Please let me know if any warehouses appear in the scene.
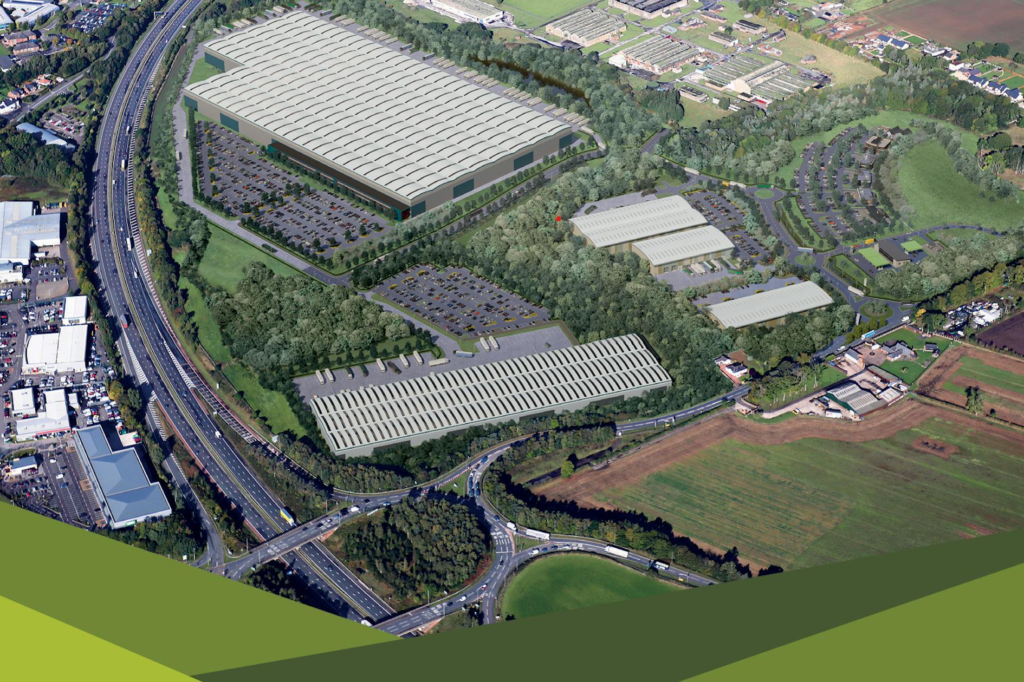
Yes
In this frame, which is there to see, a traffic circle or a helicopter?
traffic circle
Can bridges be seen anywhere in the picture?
Yes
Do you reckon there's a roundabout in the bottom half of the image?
Yes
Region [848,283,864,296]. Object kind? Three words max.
vehicle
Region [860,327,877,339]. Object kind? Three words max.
vehicle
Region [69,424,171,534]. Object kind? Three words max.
building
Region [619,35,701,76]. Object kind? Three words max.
shed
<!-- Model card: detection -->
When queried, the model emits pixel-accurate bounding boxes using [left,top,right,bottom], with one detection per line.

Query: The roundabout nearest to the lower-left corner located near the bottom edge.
[207,487,512,665]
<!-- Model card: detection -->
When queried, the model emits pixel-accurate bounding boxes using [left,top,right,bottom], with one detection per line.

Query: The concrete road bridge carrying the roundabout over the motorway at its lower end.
[330,600,444,656]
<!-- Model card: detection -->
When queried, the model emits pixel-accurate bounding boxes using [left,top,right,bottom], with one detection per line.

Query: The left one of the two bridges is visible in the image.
[242,512,346,566]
